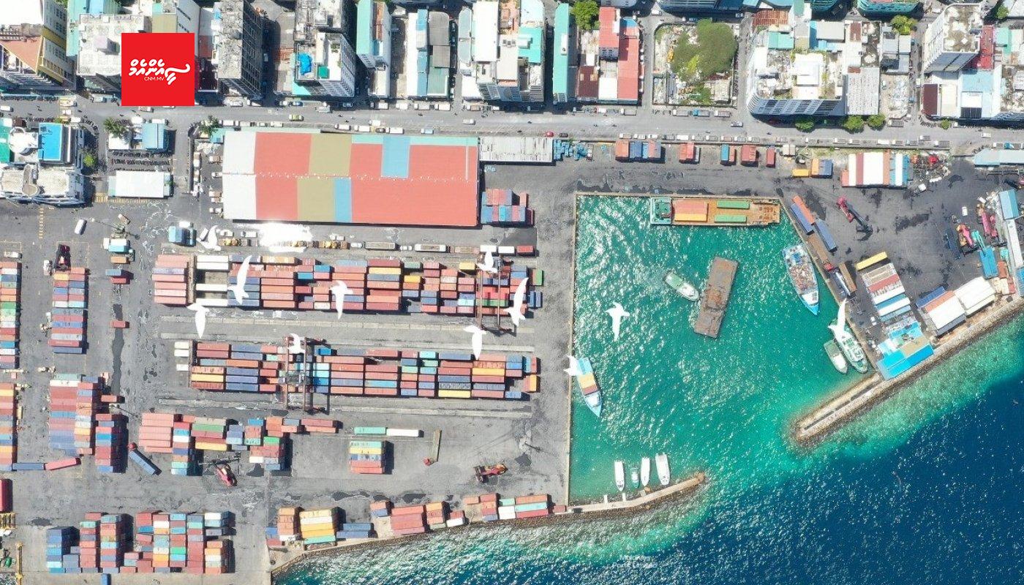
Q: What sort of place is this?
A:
port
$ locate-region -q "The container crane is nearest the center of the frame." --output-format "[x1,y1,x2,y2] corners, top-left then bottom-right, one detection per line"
[480,246,508,338]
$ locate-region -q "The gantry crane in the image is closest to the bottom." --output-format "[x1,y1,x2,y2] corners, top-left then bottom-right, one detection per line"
[286,337,322,413]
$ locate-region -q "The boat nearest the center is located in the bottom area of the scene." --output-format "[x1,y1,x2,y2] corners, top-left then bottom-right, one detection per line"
[577,356,601,418]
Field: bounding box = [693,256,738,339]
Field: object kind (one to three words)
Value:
ship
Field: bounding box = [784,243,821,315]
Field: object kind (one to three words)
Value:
boat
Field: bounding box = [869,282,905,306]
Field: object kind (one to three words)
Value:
shed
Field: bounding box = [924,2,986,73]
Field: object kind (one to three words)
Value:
building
